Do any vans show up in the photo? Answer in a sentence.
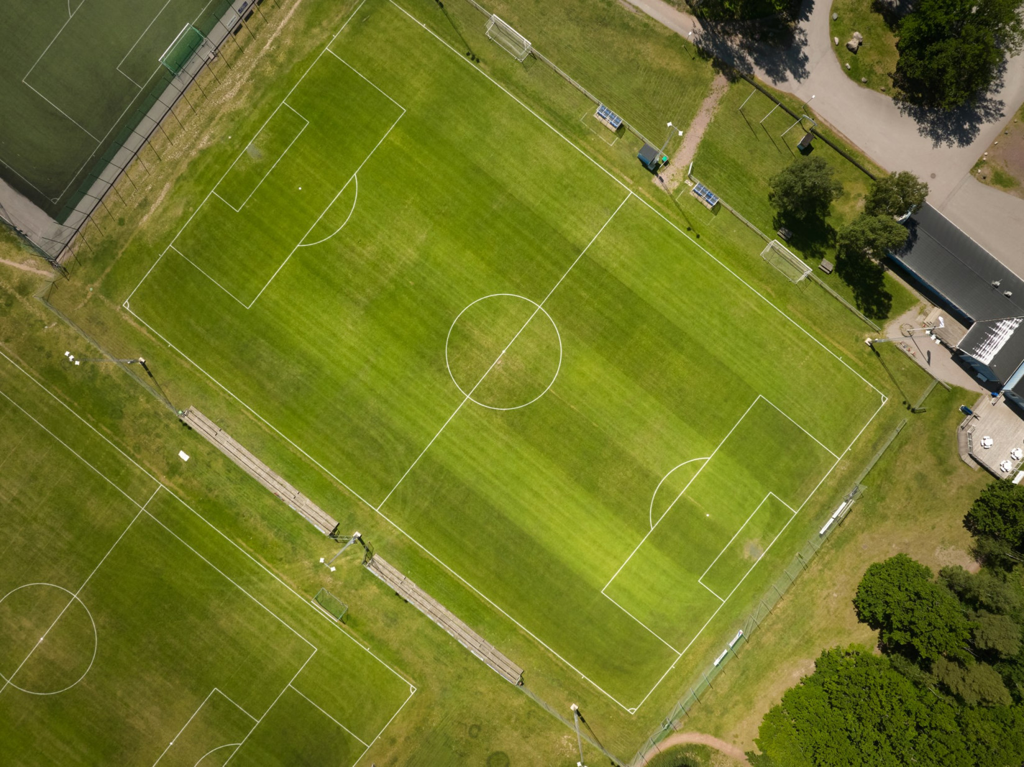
No, there isn't any van down there.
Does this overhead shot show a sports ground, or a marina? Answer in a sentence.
It's a sports ground.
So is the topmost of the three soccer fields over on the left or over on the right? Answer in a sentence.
You can find the topmost of the three soccer fields on the left side of the picture.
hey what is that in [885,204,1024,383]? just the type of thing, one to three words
building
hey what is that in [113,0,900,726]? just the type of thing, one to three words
soccer field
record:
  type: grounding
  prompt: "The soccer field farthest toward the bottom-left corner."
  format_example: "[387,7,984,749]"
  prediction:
[0,352,416,767]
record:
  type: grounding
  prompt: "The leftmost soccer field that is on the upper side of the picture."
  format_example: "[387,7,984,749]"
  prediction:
[0,0,234,224]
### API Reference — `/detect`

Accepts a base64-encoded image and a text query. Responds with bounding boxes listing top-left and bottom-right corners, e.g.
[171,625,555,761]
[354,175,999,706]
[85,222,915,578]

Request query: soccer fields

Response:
[0,0,234,224]
[0,352,416,767]
[113,0,900,726]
